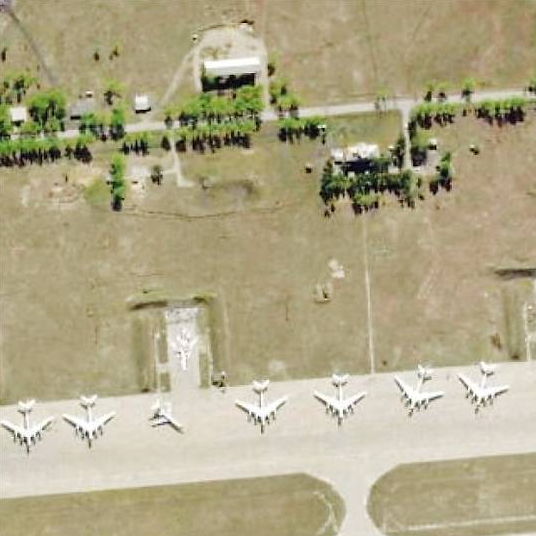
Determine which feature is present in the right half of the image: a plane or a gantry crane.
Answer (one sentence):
Looking in the right half of the image, you will find a plane.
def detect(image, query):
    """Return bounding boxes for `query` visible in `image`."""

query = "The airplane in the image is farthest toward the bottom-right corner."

[459,361,510,411]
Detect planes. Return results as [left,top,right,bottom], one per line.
[395,365,445,413]
[62,395,115,444]
[459,361,510,411]
[150,397,182,428]
[314,373,366,422]
[1,400,53,450]
[235,381,287,431]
